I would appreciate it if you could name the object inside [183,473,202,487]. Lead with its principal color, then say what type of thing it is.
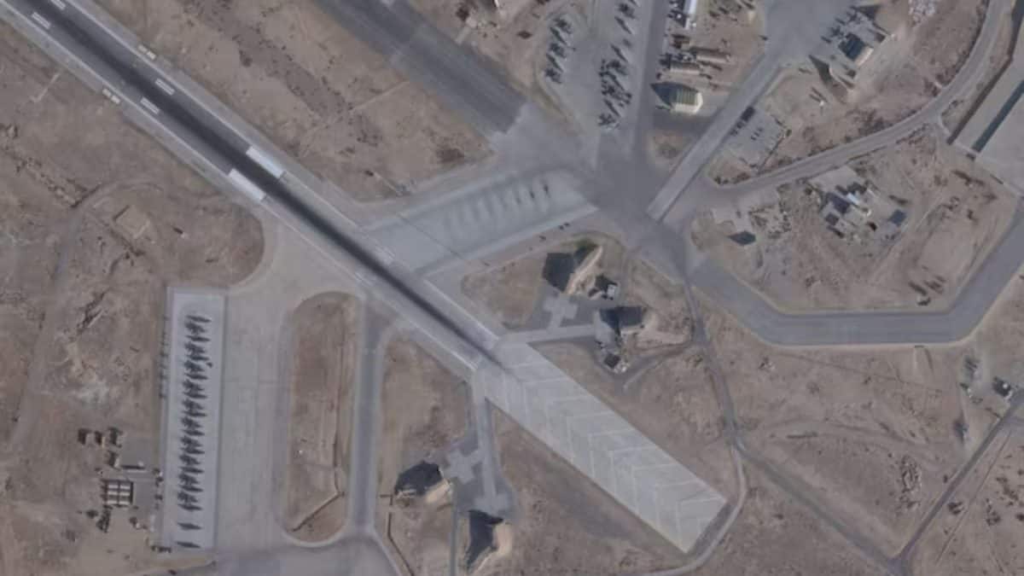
gray airplane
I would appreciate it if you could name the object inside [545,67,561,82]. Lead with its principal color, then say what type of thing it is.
gray airplane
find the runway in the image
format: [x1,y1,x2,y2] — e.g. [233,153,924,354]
[1,0,733,560]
